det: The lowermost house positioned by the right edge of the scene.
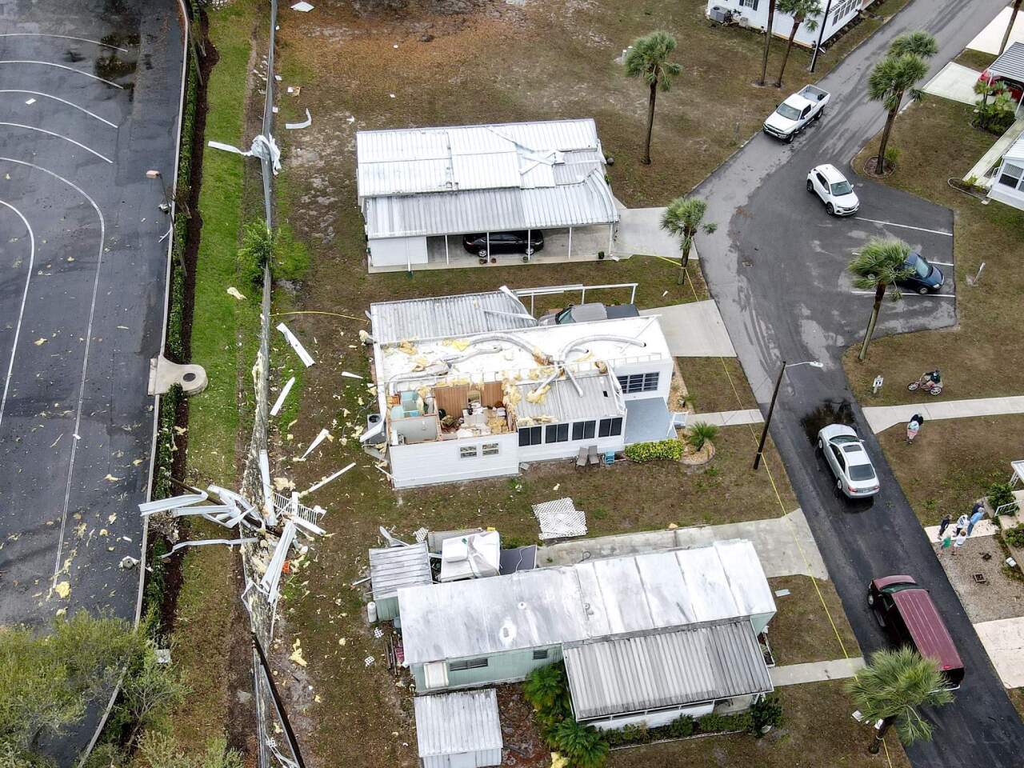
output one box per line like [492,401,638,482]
[985,137,1024,214]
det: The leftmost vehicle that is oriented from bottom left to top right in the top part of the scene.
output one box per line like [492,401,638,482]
[759,85,836,142]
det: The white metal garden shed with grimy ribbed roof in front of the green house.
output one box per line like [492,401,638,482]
[414,689,502,768]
